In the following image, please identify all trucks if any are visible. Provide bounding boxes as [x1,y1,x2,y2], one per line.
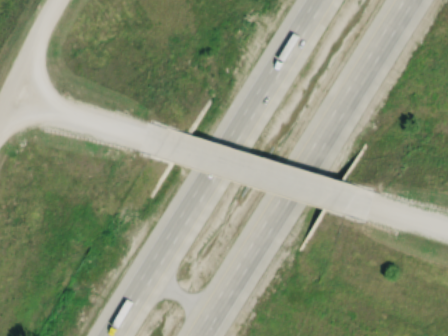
[274,34,299,70]
[108,300,132,335]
